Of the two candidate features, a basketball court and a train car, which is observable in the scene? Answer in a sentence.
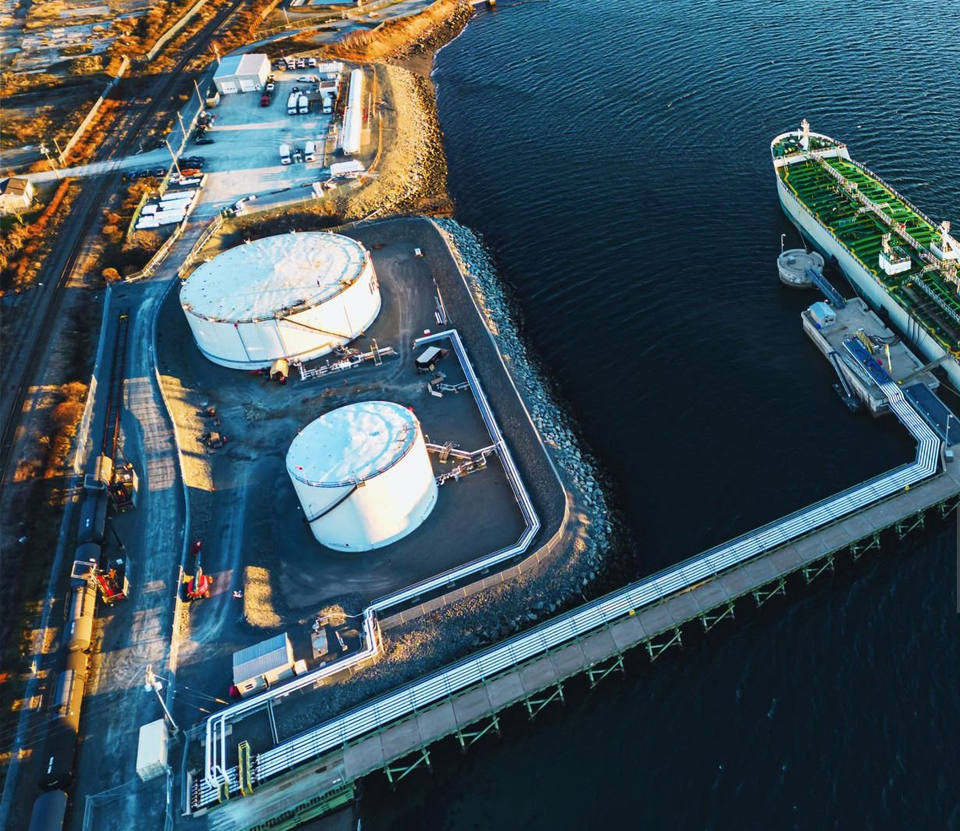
The image shows a train car.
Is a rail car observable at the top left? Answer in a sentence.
No, I can find no rail car at the top left.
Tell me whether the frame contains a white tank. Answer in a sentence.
Yes, a white tank can be made out from above.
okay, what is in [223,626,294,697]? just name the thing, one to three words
shed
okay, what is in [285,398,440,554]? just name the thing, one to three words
storage tank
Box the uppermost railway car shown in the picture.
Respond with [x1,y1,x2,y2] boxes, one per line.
[63,466,104,560]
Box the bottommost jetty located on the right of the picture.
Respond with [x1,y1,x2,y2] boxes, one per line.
[322,440,960,788]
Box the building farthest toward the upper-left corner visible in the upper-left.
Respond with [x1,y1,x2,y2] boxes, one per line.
[0,177,41,209]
